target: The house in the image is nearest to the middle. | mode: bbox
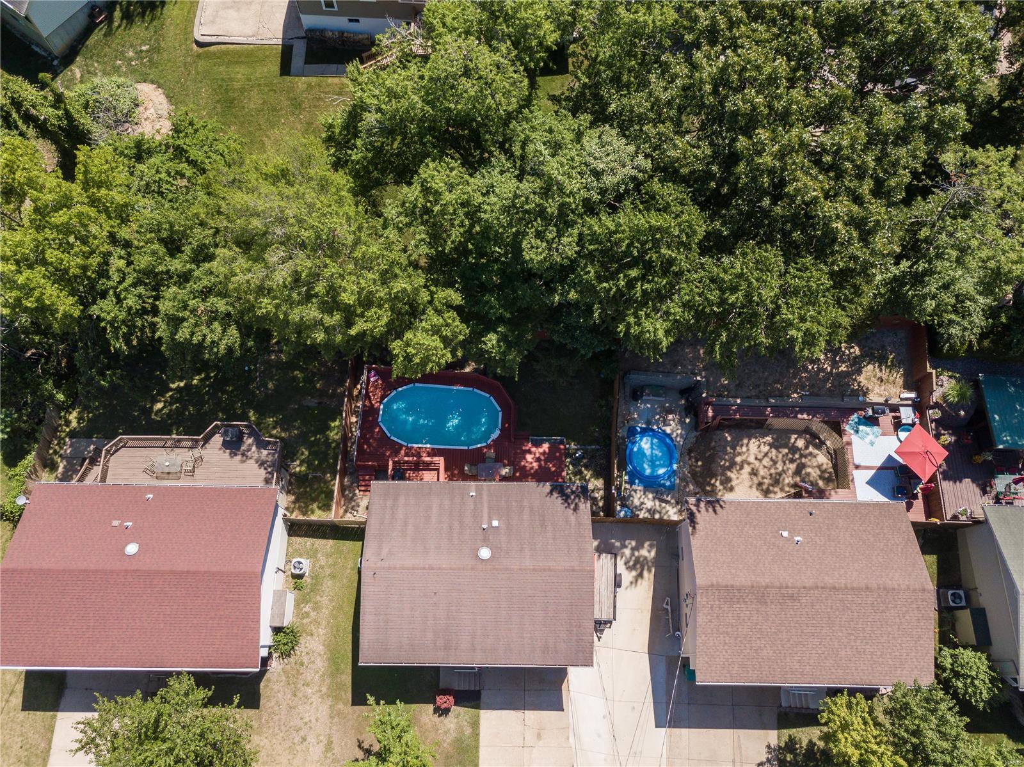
[358,481,595,669]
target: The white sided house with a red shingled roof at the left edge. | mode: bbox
[0,483,297,673]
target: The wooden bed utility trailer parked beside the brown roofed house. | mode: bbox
[592,553,621,646]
